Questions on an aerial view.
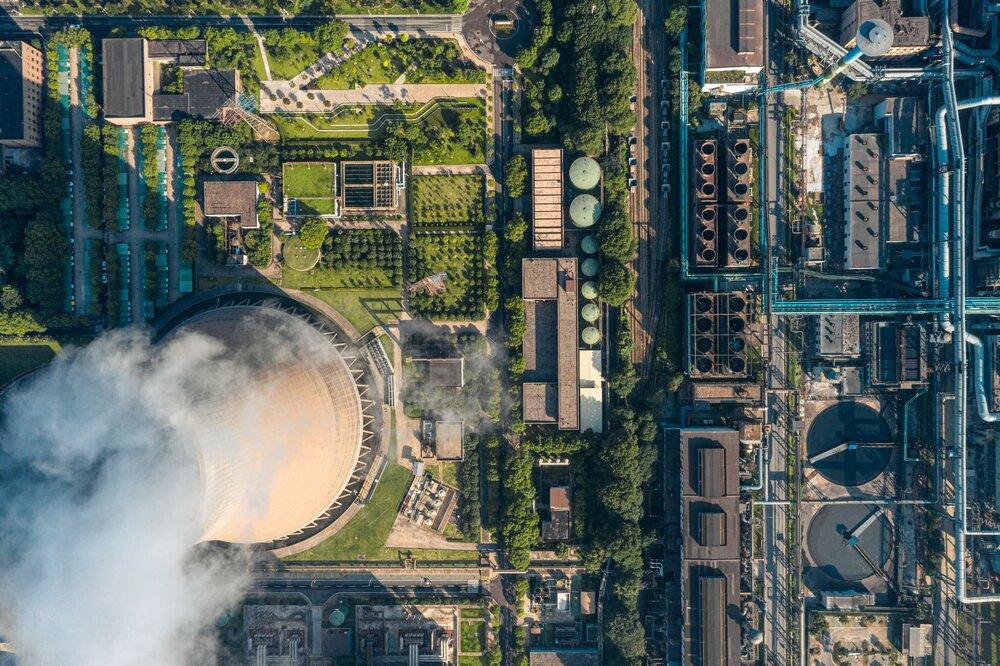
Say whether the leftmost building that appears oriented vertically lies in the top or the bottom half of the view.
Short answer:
top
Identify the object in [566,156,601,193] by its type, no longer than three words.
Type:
storage tank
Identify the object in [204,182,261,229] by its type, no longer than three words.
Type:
building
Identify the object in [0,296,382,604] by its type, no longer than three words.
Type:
cooling tower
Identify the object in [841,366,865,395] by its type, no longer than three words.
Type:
shed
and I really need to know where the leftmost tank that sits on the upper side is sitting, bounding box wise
[208,145,239,174]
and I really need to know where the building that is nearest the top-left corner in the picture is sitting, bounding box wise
[0,48,42,146]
